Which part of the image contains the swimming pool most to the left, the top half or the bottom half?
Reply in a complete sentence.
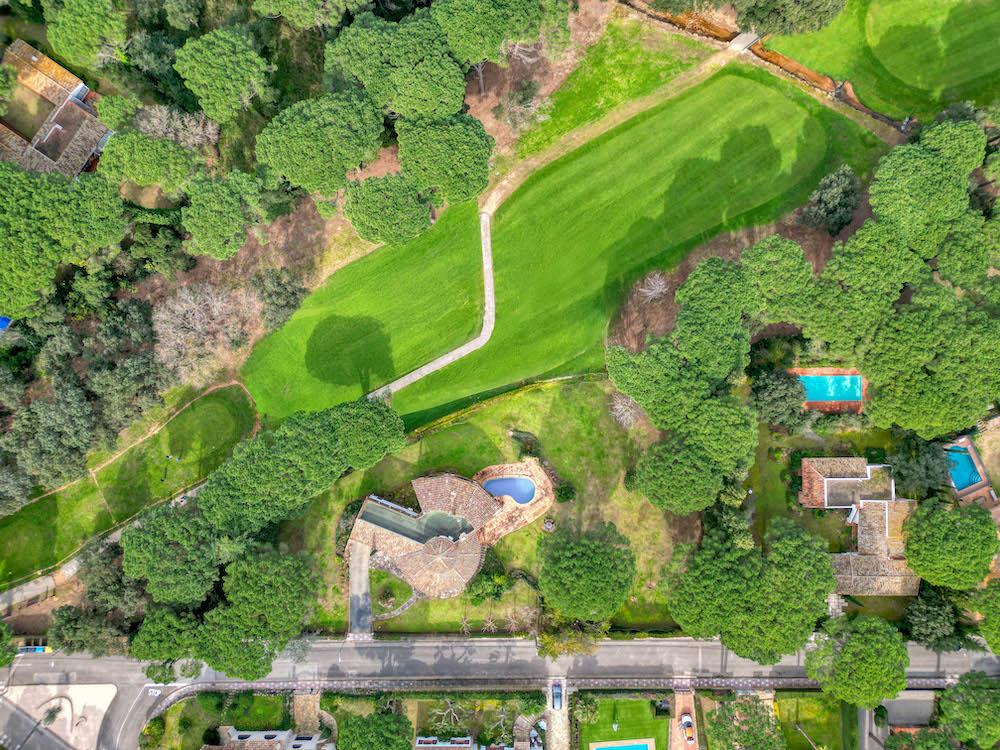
The swimming pool most to the left is in the bottom half of the image.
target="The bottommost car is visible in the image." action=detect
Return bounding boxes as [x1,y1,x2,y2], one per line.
[680,715,695,745]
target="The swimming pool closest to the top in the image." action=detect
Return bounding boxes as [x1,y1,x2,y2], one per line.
[787,367,870,413]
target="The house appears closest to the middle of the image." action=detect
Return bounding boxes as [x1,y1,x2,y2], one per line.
[346,473,504,599]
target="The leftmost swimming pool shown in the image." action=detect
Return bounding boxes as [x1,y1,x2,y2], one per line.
[479,474,538,506]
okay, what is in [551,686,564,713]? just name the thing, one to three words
vehicle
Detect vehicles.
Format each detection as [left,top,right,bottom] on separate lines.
[551,686,564,713]
[680,715,695,745]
